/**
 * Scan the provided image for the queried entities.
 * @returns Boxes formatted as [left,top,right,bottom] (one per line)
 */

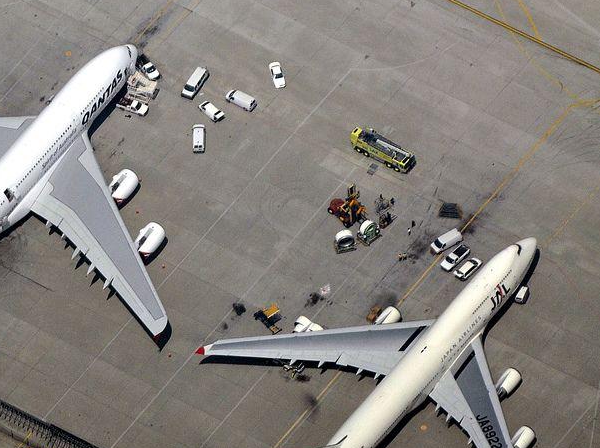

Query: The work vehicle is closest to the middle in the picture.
[328,197,373,224]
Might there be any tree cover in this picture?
No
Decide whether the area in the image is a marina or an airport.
airport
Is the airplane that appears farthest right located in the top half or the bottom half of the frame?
bottom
